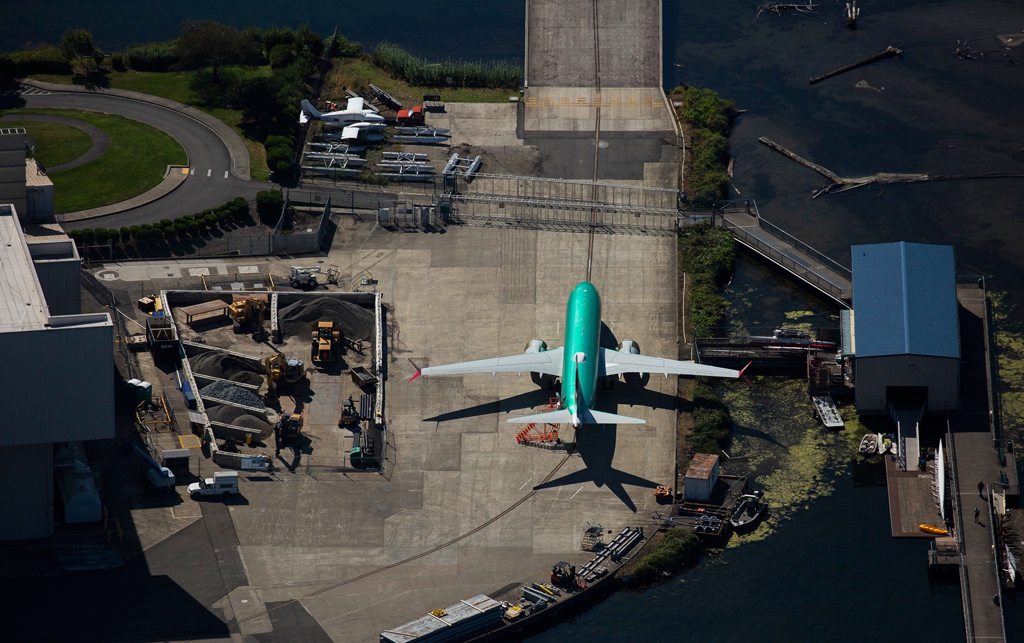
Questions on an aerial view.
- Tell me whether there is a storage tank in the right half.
No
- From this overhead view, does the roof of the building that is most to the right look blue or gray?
blue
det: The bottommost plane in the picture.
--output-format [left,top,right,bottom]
[410,282,751,429]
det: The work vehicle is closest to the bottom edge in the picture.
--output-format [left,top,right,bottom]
[544,558,580,591]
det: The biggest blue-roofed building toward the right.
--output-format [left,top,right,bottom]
[838,240,963,428]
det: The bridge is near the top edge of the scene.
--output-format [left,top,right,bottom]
[524,0,663,89]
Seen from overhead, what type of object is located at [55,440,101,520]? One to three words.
storage tank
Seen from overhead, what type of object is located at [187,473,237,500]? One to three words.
truck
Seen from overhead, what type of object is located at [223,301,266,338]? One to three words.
work vehicle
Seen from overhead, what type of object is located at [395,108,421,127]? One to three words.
vehicle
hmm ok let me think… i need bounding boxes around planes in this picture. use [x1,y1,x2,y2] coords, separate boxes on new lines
[300,102,389,144]
[410,282,751,429]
